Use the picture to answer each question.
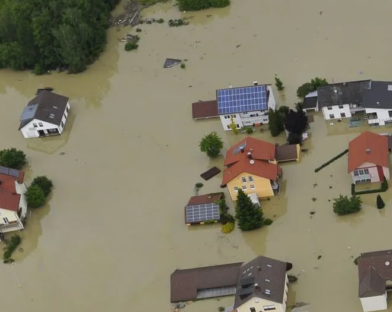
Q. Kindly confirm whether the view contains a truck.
No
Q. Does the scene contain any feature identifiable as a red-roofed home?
Yes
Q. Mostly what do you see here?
water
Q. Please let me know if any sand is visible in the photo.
No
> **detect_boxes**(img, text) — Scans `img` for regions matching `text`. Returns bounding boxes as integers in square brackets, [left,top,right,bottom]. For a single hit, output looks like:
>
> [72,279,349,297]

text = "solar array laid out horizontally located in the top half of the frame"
[217,86,266,115]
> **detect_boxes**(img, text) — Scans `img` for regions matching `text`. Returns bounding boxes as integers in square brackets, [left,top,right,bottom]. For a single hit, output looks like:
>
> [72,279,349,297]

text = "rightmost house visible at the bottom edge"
[359,250,392,311]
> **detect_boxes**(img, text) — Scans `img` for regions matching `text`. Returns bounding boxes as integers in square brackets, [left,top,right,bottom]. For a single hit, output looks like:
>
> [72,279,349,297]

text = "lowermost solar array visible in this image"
[186,202,219,223]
